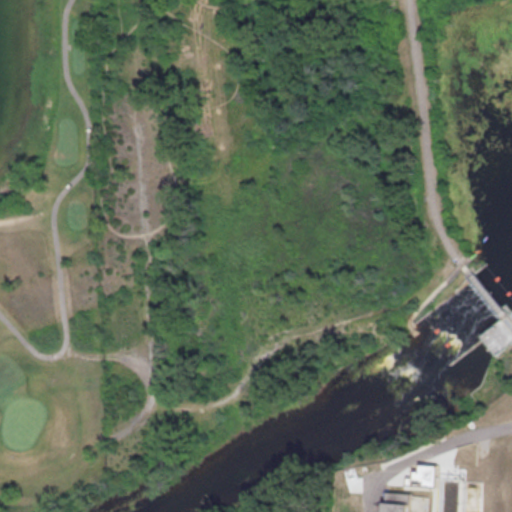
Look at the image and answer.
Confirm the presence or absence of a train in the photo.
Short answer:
No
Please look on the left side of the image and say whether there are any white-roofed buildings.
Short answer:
No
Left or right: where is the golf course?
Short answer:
left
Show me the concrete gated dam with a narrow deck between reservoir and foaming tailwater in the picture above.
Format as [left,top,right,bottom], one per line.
[460,262,504,318]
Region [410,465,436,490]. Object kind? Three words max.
building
